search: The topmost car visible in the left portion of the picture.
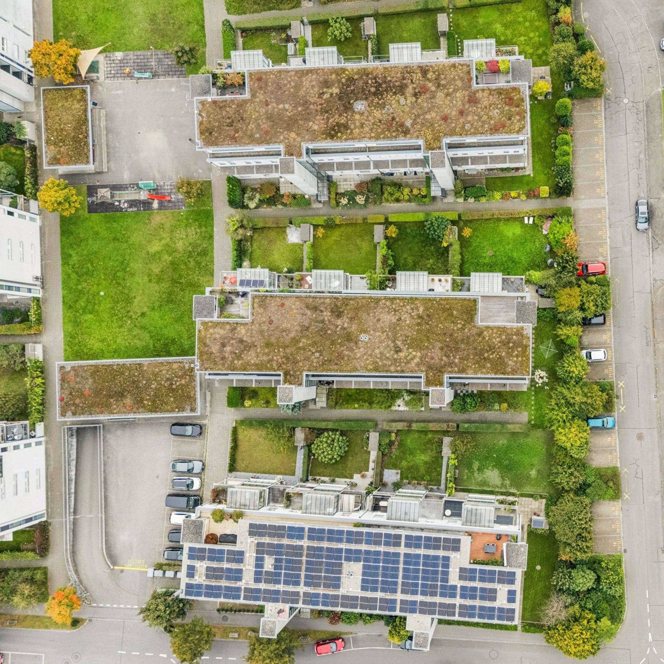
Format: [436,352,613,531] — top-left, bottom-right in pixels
[170,423,203,437]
